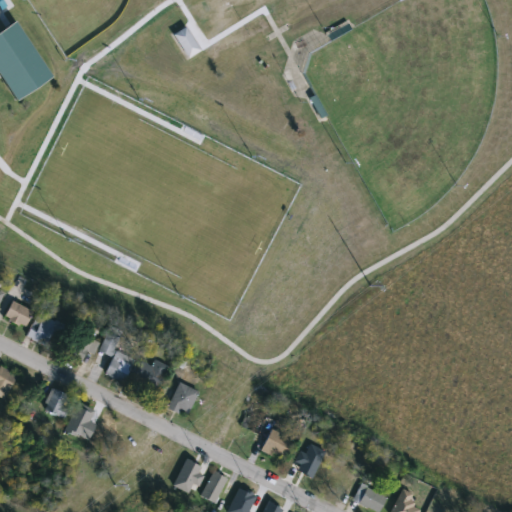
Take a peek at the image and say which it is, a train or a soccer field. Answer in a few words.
soccer field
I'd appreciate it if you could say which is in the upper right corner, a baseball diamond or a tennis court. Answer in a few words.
baseball diamond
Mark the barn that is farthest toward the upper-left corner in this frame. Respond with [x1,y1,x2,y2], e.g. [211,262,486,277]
[0,22,54,100]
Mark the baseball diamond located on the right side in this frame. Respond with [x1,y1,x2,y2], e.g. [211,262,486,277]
[306,0,498,231]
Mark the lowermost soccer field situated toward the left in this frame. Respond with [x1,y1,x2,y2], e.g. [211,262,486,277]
[34,90,290,311]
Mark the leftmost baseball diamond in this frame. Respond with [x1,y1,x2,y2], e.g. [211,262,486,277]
[29,0,126,57]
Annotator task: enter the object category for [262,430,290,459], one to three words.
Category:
house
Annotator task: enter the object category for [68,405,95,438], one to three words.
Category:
house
